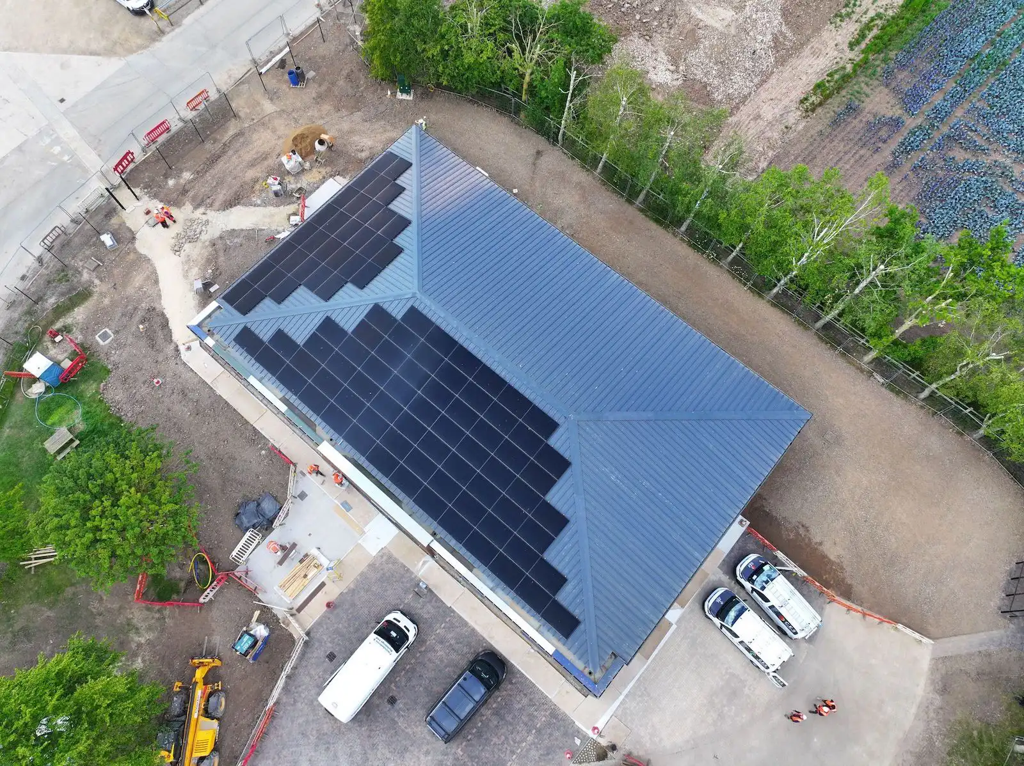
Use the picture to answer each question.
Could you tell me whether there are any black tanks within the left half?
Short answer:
No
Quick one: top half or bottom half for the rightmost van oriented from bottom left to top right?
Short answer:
bottom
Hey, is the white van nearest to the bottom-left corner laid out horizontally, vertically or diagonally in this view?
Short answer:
diagonally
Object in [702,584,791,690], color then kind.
white van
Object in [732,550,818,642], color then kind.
white van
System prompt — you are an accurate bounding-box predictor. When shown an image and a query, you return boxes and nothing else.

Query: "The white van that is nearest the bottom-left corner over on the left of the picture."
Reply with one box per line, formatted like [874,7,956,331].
[319,609,422,724]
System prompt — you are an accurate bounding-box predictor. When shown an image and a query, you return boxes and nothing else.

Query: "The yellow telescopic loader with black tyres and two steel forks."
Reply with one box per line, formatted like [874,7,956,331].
[146,637,224,766]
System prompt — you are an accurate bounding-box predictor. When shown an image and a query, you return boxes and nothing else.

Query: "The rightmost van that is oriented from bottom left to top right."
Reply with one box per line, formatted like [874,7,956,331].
[425,648,511,743]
